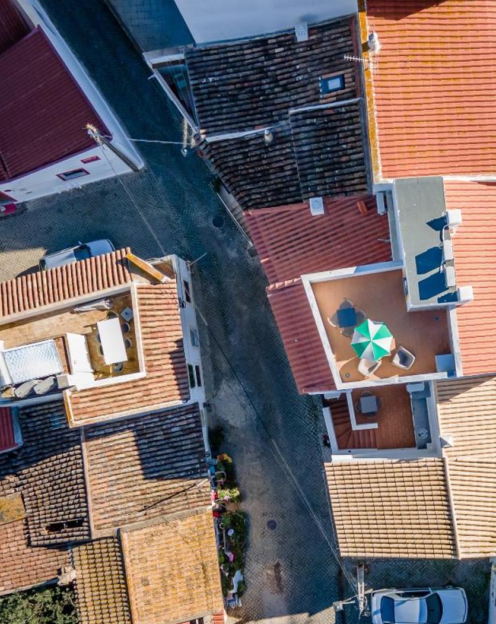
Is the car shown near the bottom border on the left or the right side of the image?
right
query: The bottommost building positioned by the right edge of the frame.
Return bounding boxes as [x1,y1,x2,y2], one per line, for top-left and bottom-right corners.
[322,375,496,559]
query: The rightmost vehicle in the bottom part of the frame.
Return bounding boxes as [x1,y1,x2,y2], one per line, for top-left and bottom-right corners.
[369,581,469,624]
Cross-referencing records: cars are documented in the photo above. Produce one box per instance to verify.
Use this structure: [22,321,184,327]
[34,234,124,274]
[369,581,469,624]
